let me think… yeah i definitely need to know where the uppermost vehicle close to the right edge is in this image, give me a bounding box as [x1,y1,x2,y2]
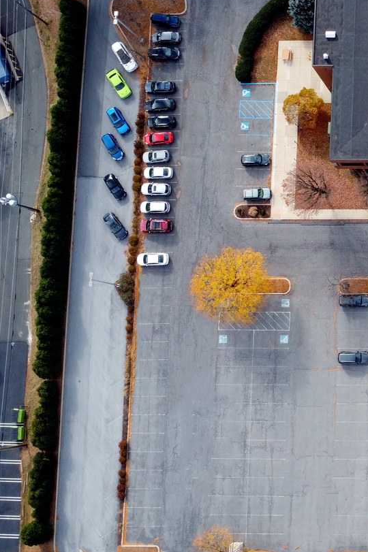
[339,293,368,309]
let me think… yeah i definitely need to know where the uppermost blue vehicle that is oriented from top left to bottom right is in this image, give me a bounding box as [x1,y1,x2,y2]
[107,105,131,135]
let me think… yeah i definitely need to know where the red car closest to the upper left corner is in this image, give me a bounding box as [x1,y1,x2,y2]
[145,132,175,145]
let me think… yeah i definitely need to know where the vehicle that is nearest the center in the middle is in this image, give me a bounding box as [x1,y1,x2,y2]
[138,253,170,266]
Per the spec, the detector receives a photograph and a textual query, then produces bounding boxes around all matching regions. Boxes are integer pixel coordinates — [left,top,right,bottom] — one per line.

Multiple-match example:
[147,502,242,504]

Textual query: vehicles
[108,69,131,98]
[240,153,271,168]
[140,200,171,214]
[103,211,128,242]
[153,31,182,44]
[149,47,181,61]
[114,42,137,72]
[138,253,170,266]
[144,166,175,180]
[103,172,127,202]
[101,132,123,162]
[141,183,173,196]
[141,218,175,233]
[337,351,368,366]
[150,13,181,28]
[147,115,177,129]
[145,132,175,145]
[107,105,131,135]
[144,150,171,163]
[339,293,368,309]
[242,187,272,200]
